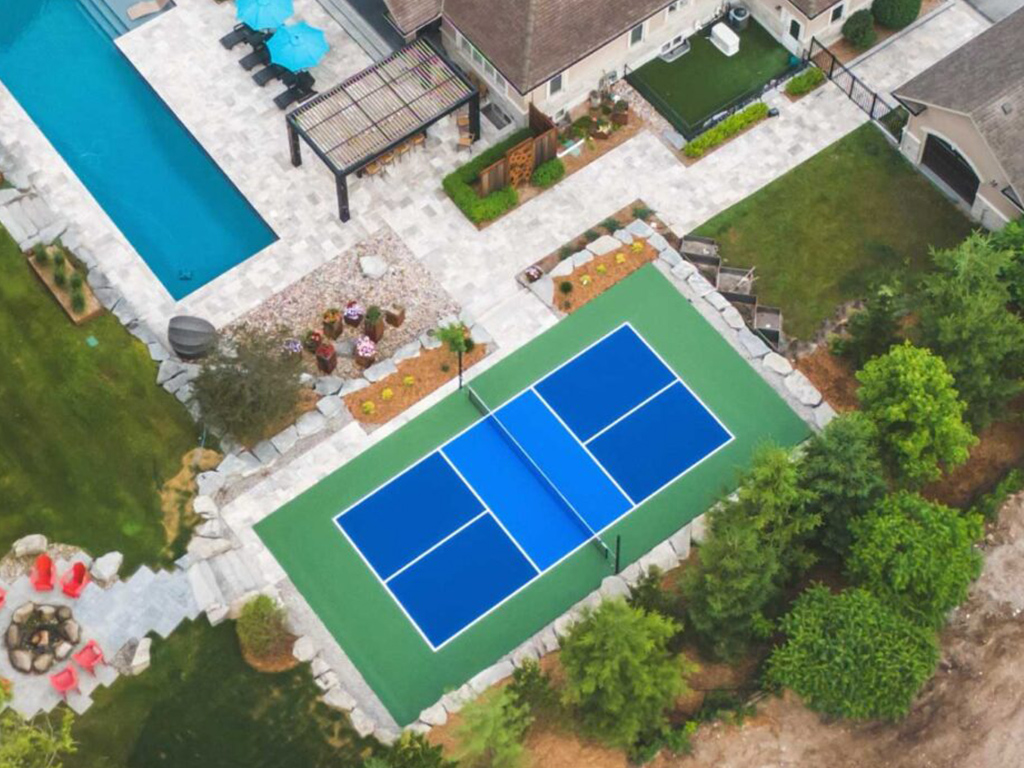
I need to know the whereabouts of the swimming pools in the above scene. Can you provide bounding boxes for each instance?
[0,0,289,309]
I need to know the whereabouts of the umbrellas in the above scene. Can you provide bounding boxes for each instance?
[228,0,294,49]
[261,19,328,80]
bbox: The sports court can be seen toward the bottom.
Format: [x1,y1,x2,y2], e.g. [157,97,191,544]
[254,264,810,727]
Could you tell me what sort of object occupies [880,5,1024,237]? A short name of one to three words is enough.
building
